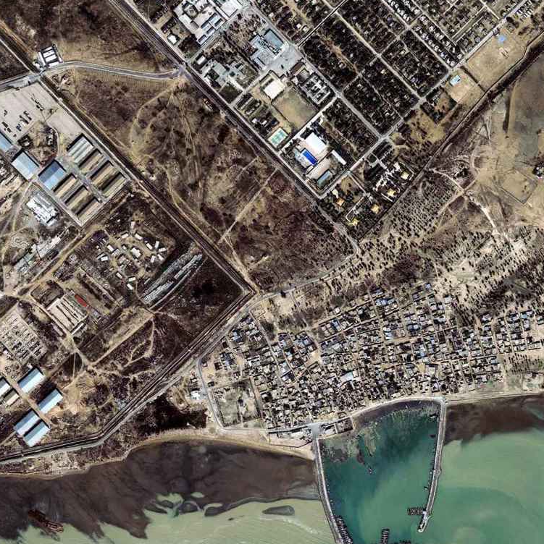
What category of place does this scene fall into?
residential area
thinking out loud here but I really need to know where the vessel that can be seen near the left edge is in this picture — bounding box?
[27,511,63,530]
